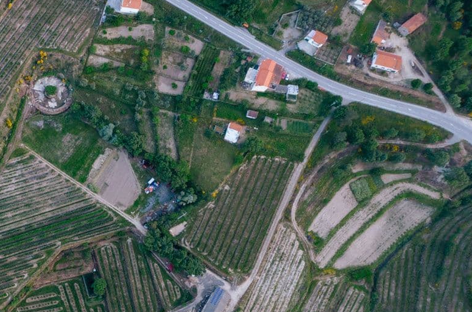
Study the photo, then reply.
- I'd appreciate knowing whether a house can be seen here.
Yes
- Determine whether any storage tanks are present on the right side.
No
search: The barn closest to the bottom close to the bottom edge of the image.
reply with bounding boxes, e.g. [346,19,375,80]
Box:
[197,285,231,312]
